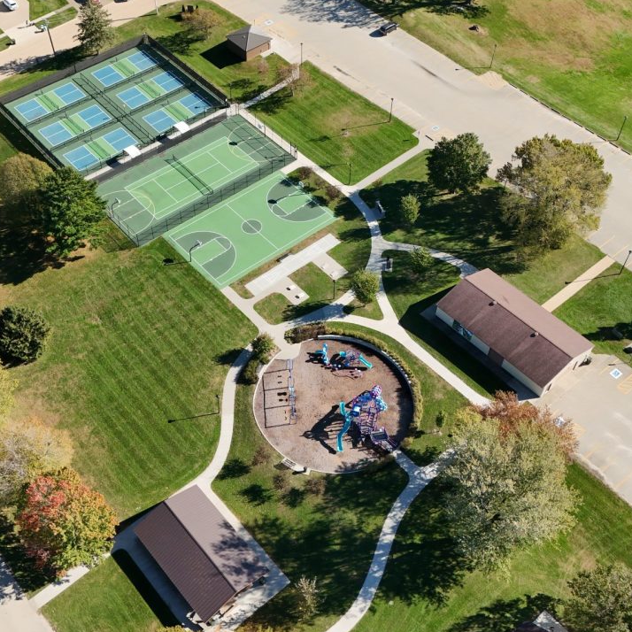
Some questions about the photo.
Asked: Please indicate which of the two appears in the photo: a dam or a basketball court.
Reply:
basketball court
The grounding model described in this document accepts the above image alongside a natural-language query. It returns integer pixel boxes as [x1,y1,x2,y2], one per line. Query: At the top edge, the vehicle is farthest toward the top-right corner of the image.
[377,21,400,33]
